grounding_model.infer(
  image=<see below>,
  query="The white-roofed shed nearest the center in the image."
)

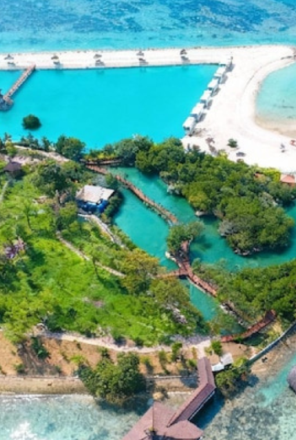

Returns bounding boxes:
[74,187,115,216]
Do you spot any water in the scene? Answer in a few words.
Yes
